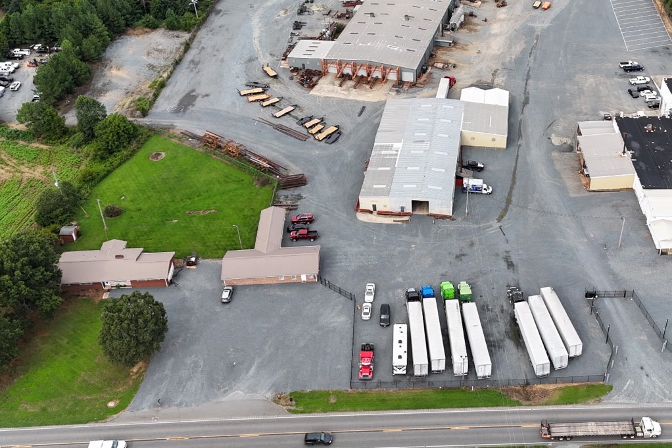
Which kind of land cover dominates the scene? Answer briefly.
paved ground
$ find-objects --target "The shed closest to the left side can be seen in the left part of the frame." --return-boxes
[57,224,78,242]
